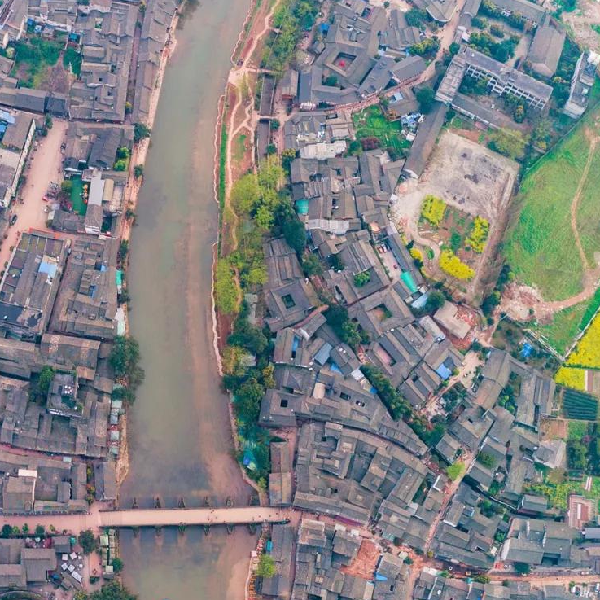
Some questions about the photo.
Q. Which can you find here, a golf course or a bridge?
bridge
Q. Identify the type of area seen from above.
residential area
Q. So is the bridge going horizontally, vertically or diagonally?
horizontally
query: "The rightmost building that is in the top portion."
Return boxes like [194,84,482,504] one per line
[556,52,599,122]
